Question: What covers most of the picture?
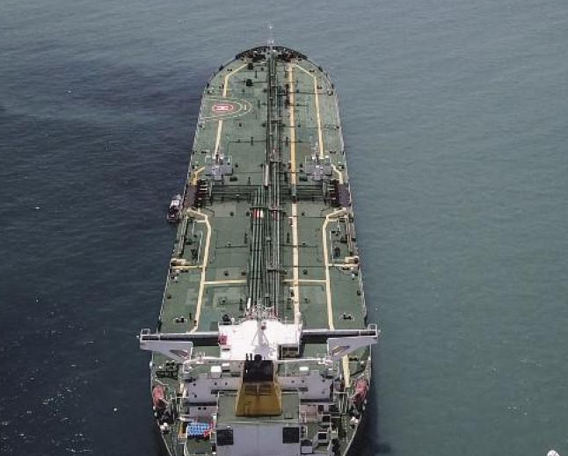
water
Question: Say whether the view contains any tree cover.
No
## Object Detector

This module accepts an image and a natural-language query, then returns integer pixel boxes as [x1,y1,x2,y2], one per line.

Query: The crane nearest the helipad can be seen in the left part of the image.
[203,146,231,187]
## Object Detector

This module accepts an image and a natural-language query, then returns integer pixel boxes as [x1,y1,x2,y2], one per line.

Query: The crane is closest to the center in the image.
[303,145,329,186]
